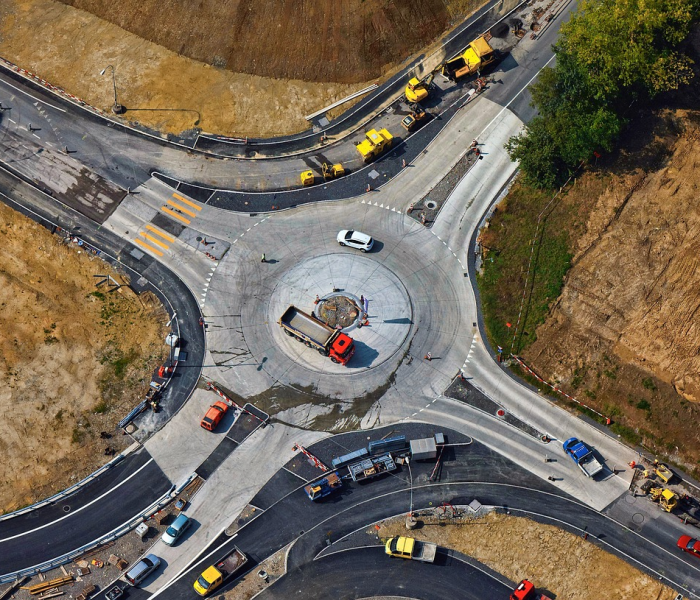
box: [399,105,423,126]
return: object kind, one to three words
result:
work vehicle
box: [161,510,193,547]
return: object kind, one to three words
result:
car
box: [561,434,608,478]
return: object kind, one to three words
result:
truck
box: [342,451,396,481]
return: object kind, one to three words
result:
trailer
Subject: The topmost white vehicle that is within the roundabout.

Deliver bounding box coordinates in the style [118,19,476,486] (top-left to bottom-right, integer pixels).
[336,230,375,254]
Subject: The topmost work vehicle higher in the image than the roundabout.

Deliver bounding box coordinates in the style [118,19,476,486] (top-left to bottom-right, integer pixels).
[409,64,446,103]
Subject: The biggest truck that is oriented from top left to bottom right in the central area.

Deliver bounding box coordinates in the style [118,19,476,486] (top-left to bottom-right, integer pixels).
[277,301,360,366]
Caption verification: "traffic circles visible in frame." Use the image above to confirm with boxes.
[205,202,477,432]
